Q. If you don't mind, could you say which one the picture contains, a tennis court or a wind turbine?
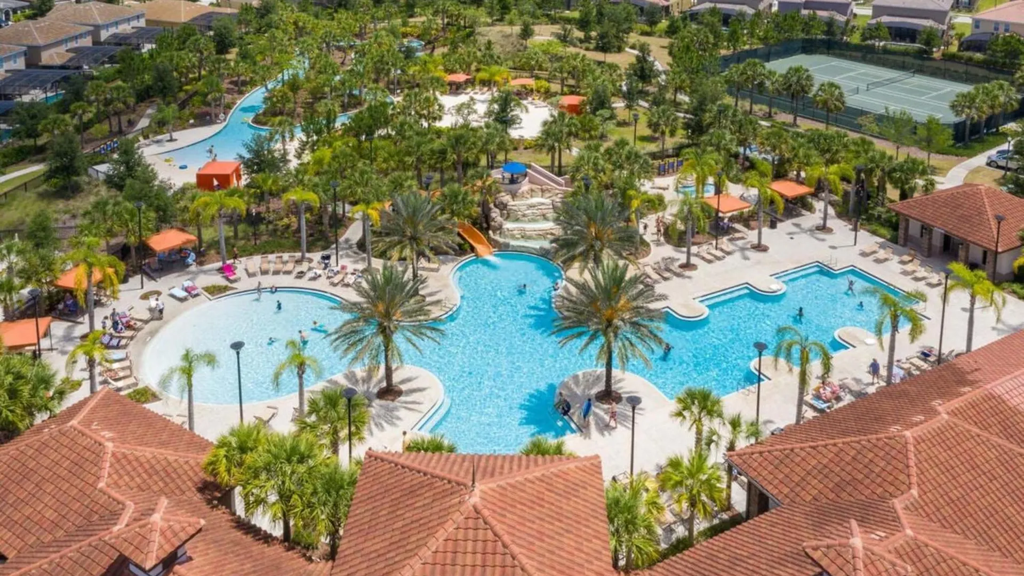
tennis court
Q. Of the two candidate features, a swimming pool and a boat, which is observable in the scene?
swimming pool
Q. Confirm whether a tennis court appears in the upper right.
Yes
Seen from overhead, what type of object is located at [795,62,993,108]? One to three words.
tennis court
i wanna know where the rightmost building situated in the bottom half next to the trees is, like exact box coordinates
[620,331,1024,576]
